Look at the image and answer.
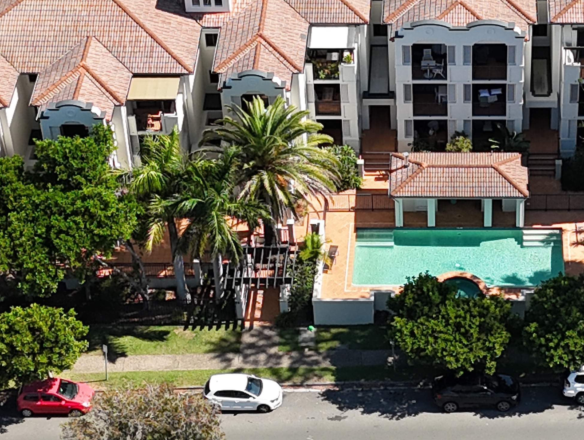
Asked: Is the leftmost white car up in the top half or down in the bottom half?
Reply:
bottom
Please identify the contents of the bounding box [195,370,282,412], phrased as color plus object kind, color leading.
white car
